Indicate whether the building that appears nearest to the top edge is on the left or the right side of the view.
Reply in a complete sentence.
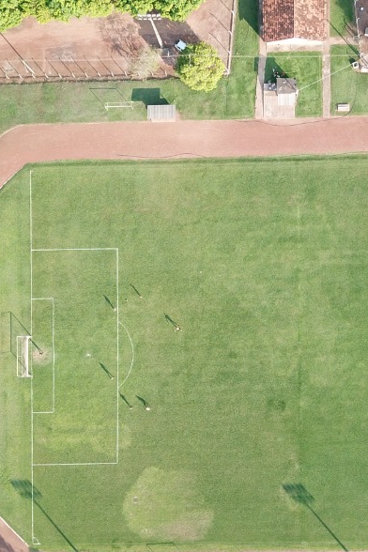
The building that appears nearest to the top edge sits on the right side.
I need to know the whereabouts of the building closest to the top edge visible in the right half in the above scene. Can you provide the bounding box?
[263,0,326,48]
